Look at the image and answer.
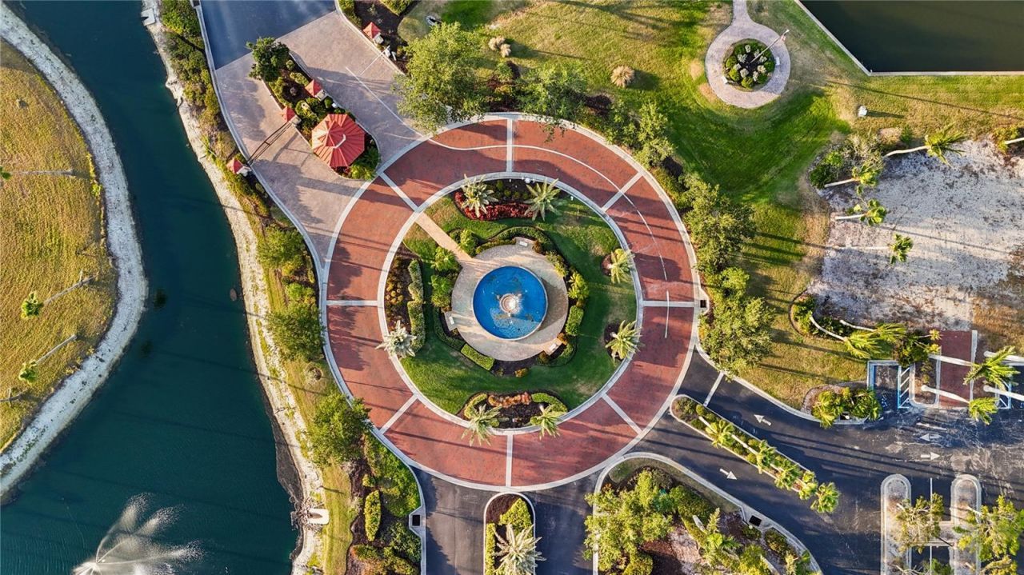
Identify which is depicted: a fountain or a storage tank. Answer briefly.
fountain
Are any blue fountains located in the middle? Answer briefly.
Yes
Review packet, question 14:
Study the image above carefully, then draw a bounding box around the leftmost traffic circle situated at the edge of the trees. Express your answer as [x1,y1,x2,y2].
[319,111,703,487]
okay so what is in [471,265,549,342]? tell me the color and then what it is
blue fountain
